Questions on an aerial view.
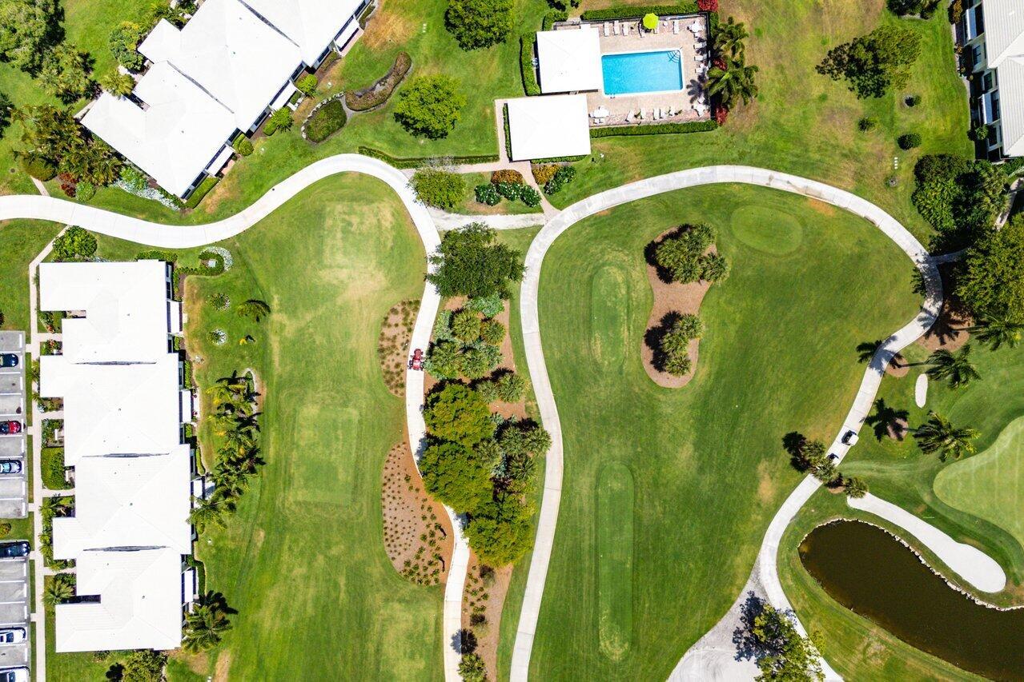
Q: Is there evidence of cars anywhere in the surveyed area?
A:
Yes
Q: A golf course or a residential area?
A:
golf course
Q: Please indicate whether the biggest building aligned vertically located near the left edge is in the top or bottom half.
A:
bottom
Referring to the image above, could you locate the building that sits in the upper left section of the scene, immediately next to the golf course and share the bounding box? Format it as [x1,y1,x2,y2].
[82,0,373,198]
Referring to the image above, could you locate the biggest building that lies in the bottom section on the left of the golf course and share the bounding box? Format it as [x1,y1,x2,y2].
[40,258,210,653]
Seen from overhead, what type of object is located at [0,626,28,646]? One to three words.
car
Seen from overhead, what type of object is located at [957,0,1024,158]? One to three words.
building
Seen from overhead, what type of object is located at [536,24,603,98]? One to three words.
building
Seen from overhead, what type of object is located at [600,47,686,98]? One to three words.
swimming pool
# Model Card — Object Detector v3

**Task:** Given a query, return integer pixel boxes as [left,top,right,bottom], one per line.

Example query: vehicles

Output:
[0,458,24,476]
[827,453,841,470]
[0,352,21,370]
[0,666,32,682]
[839,429,857,447]
[0,626,28,646]
[0,540,33,560]
[0,418,23,436]
[407,350,422,372]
